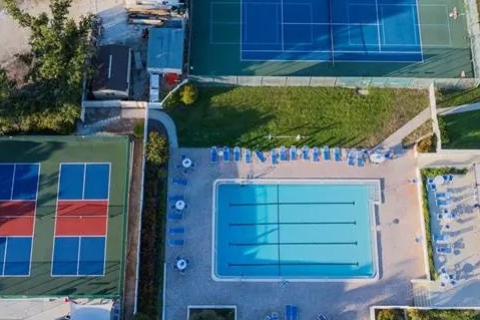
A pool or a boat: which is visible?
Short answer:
pool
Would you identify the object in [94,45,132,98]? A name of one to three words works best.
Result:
shed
